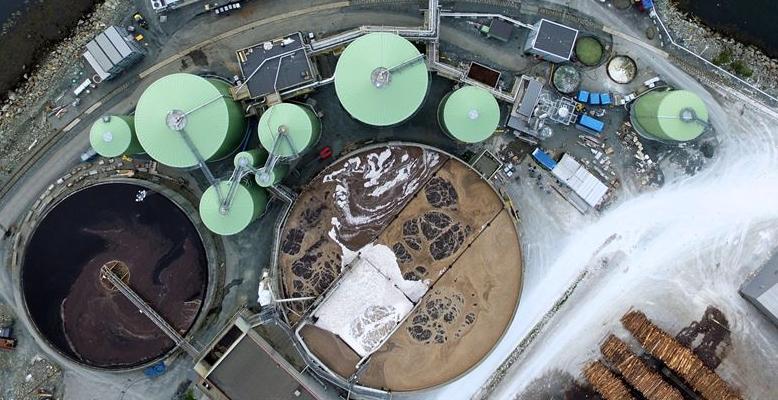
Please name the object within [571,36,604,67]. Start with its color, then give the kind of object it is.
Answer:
green storage tank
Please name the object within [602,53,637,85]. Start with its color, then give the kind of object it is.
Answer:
white storage tank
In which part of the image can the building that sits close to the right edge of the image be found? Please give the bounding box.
[740,250,778,322]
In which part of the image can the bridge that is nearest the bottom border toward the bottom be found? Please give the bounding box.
[99,262,207,364]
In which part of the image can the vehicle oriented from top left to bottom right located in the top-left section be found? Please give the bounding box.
[135,11,153,30]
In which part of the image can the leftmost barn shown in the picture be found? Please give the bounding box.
[84,25,145,81]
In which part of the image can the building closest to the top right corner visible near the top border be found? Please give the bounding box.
[525,19,578,62]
